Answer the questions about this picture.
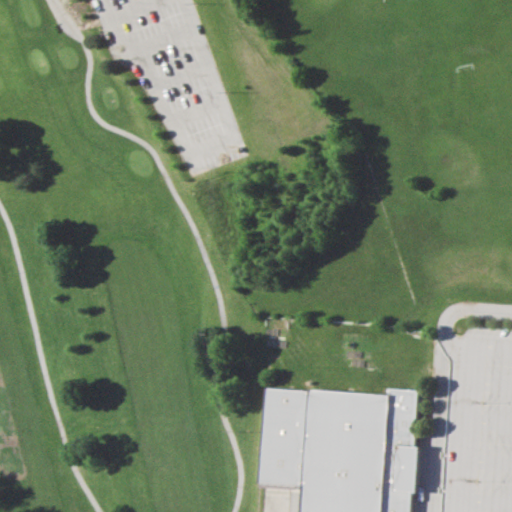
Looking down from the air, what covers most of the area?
grass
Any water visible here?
No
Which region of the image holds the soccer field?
top right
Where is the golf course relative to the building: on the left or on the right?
to the left of it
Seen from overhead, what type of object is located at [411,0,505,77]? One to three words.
soccer field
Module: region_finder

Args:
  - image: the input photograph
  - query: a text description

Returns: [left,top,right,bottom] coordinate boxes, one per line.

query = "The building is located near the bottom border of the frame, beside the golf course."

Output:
[260,388,418,512]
